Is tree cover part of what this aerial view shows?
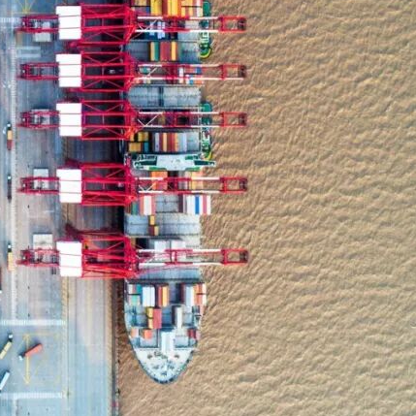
No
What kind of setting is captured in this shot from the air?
port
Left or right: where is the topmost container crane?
left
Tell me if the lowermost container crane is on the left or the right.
left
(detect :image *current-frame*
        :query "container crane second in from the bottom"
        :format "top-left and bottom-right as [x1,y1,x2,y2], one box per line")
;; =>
[14,158,247,204]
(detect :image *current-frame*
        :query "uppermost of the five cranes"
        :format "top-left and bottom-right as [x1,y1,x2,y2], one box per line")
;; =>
[13,3,246,51]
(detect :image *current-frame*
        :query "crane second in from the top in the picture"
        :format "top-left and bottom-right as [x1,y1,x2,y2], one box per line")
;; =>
[14,51,246,96]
